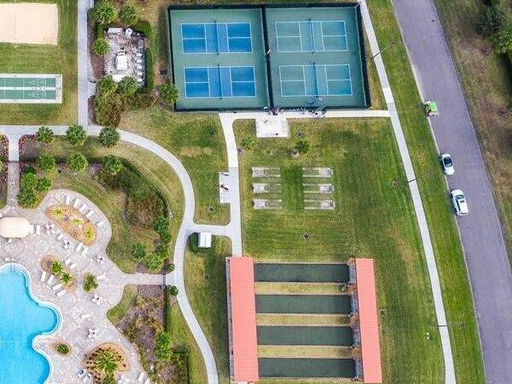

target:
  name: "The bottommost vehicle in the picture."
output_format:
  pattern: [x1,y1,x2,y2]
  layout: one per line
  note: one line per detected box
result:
[451,190,470,216]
